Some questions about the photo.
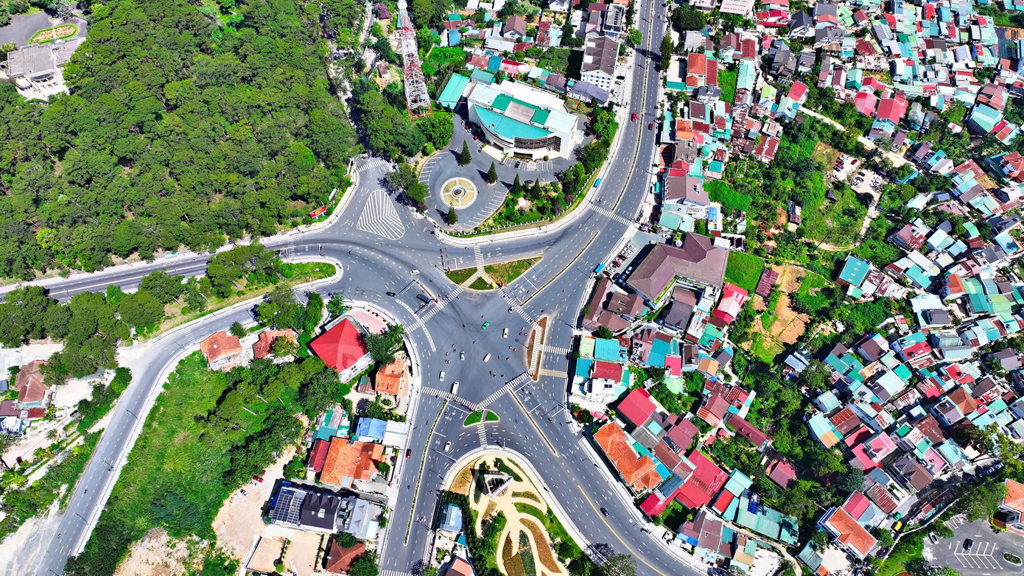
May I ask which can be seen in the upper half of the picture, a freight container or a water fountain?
water fountain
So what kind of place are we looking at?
residential area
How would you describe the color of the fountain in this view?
white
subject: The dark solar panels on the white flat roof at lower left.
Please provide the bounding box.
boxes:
[274,490,307,524]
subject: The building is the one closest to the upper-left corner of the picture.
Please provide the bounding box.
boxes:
[7,36,91,86]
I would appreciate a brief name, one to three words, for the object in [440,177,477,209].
fountain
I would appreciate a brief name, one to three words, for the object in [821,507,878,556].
house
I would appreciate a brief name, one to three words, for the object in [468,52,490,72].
shed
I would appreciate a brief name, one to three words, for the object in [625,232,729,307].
building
